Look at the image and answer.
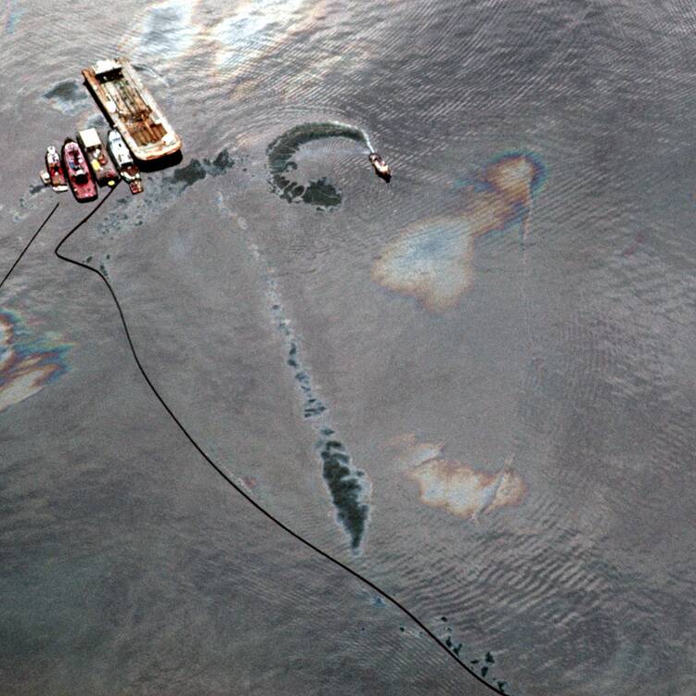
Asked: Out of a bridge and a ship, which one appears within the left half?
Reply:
ship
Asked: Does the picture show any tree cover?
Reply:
No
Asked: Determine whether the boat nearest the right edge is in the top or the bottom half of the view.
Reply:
top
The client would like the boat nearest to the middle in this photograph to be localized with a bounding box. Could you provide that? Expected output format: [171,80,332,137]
[369,153,389,178]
